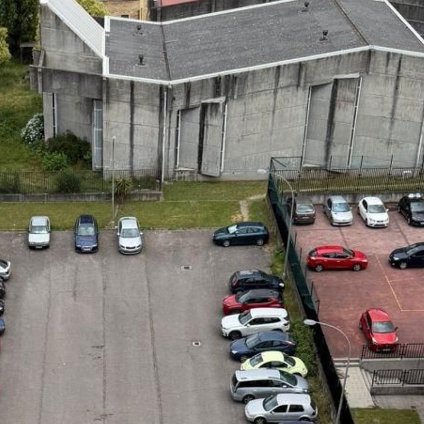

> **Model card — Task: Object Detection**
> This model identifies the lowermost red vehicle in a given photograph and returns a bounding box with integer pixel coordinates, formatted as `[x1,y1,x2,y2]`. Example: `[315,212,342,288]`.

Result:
[350,305,395,347]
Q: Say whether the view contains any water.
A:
No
